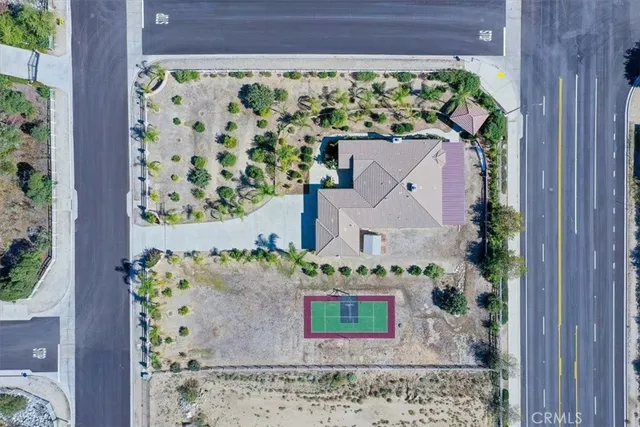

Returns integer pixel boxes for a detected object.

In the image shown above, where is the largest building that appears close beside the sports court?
[315,138,464,256]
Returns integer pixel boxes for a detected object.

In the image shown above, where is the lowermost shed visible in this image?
[363,234,381,255]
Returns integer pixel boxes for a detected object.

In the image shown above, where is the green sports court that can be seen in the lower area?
[304,296,395,338]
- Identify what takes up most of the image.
paved ground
